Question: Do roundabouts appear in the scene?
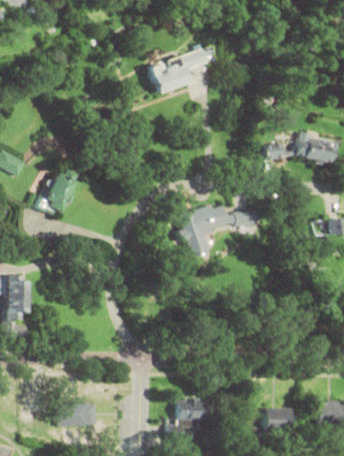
No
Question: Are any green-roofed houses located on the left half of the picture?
Yes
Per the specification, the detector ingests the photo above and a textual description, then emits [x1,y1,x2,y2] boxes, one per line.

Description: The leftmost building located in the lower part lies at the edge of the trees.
[0,275,31,331]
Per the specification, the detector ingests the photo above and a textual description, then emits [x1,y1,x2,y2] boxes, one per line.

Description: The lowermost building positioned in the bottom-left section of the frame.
[55,402,97,429]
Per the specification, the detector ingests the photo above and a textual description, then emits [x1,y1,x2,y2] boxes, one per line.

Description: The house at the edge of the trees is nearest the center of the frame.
[178,207,256,260]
